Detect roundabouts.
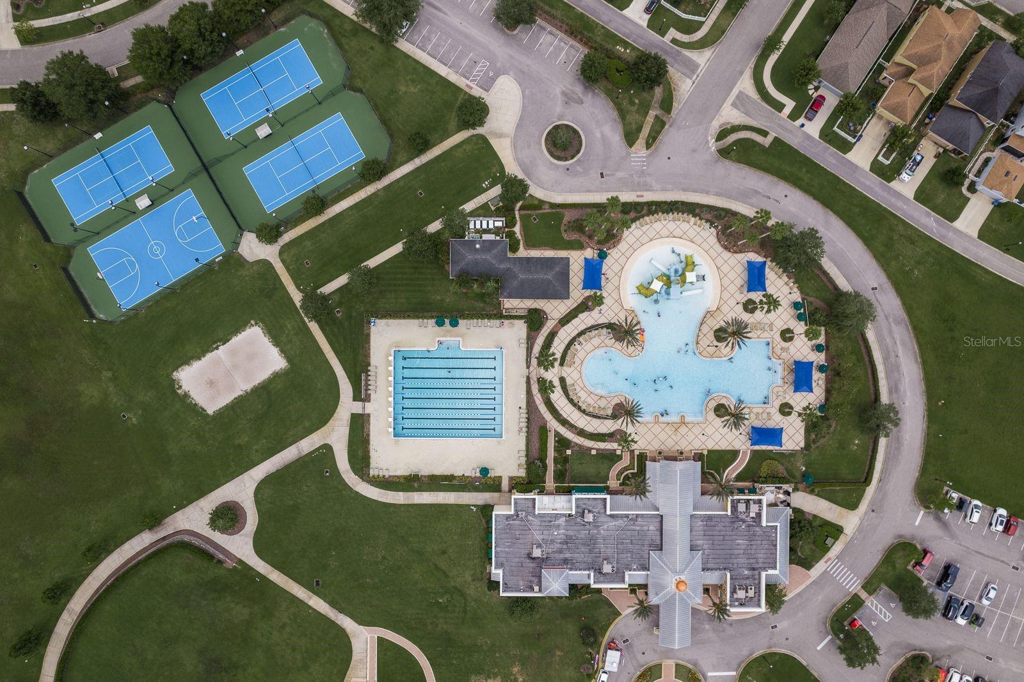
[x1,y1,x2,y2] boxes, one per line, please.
[542,121,586,164]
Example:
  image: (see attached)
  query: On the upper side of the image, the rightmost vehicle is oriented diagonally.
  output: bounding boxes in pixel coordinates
[899,154,923,182]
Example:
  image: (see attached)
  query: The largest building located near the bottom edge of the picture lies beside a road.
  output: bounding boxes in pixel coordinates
[489,459,789,649]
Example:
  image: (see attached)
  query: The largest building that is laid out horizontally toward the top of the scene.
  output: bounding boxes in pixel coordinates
[450,239,572,299]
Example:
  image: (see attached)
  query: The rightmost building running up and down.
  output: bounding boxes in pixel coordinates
[974,87,1024,201]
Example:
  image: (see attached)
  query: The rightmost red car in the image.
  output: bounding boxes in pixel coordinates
[1001,515,1018,537]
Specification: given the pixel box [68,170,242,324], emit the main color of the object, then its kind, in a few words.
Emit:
blue basketball court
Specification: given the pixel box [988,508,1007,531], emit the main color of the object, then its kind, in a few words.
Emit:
white car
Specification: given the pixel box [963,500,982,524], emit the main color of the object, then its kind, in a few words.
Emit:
white car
